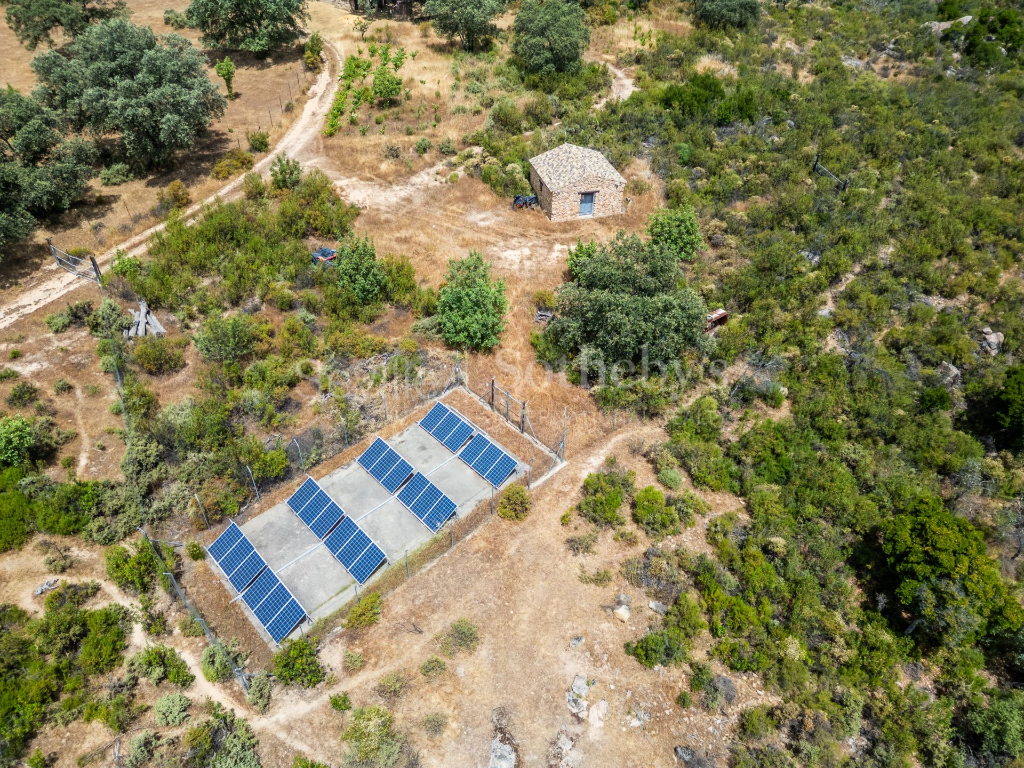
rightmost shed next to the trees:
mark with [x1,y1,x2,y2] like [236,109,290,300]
[528,126,628,222]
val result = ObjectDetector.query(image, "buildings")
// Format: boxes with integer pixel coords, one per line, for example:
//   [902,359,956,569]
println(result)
[379,0,414,21]
[528,126,628,222]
